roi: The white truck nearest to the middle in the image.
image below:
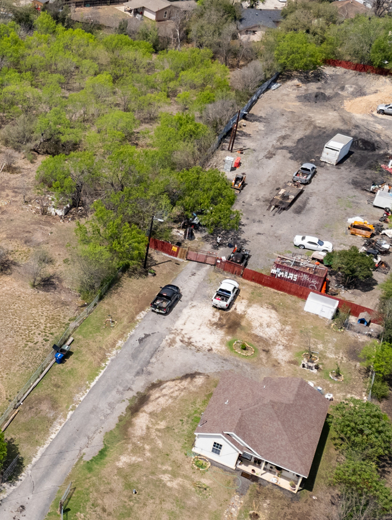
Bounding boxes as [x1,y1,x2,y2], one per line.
[212,279,239,310]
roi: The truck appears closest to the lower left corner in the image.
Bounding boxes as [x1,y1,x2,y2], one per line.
[148,283,180,315]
